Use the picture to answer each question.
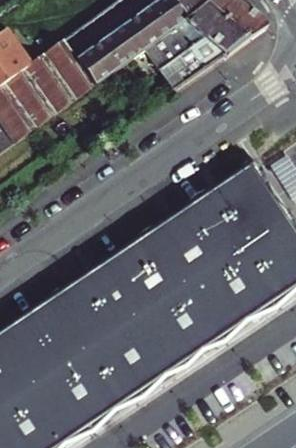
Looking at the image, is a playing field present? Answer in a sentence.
No, there appears to be no playing field in this shot.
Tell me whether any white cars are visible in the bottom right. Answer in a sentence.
Yes, a white car is visible in the bottom right.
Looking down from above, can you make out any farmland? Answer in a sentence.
No, there is no farmland in the image.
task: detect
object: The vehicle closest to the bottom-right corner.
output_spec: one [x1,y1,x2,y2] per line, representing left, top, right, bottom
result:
[276,386,293,406]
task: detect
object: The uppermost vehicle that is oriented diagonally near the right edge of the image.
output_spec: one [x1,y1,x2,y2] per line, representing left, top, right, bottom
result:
[267,354,284,374]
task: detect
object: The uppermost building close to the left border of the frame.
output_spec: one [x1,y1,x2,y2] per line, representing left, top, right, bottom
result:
[0,26,33,84]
